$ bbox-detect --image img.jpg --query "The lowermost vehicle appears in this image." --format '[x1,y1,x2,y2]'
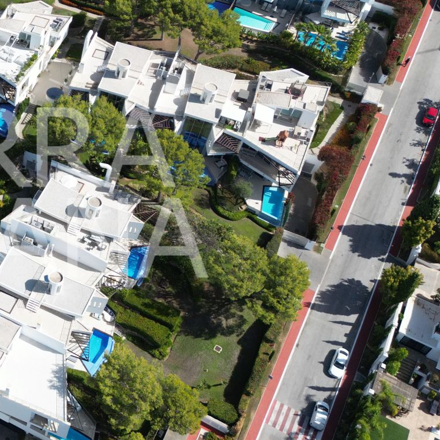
[305,398,332,434]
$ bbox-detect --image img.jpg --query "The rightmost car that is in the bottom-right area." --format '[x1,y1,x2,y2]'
[323,345,350,382]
